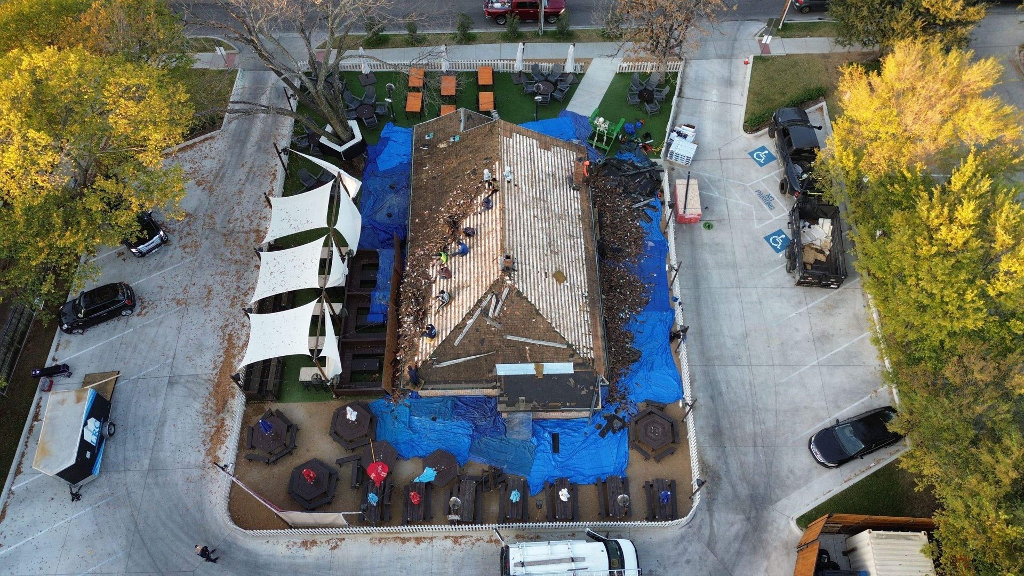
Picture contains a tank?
No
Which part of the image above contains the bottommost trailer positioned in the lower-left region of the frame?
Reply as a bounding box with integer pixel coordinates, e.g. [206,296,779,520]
[28,388,111,500]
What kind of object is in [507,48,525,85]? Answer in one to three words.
umbrella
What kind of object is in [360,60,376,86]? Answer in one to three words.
umbrella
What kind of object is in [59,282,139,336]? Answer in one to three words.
car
